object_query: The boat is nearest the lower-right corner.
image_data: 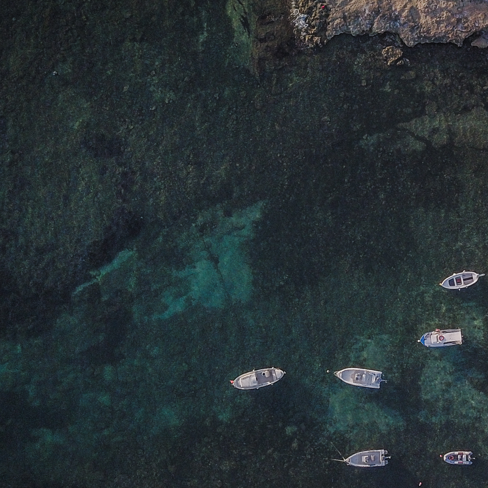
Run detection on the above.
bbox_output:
[444,450,476,464]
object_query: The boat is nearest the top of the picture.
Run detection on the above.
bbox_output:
[438,268,486,290]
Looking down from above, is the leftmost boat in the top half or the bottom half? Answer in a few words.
bottom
